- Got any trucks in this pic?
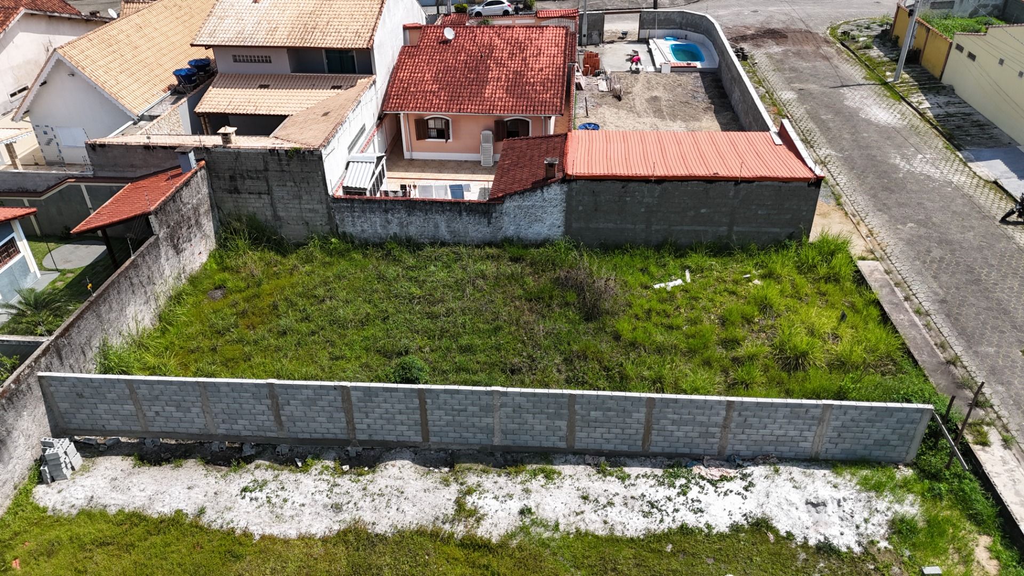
No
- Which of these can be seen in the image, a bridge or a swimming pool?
swimming pool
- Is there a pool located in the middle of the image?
No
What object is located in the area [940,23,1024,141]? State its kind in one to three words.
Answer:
building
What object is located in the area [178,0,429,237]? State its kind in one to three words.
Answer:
house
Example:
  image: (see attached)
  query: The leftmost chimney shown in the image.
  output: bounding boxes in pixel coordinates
[166,143,195,171]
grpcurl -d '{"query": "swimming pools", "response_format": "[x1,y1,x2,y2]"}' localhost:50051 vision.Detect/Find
[646,31,724,78]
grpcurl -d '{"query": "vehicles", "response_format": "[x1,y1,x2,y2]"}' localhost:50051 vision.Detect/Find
[469,0,512,13]
[998,191,1024,222]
